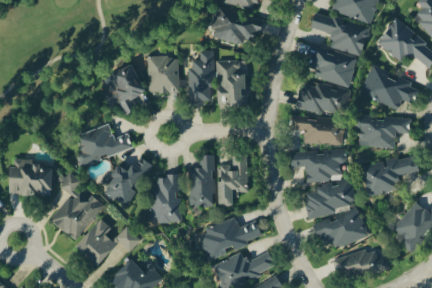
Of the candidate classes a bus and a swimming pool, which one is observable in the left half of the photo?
swimming pool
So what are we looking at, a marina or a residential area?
residential area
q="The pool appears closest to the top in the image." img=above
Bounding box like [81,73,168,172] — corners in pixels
[28,146,58,164]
